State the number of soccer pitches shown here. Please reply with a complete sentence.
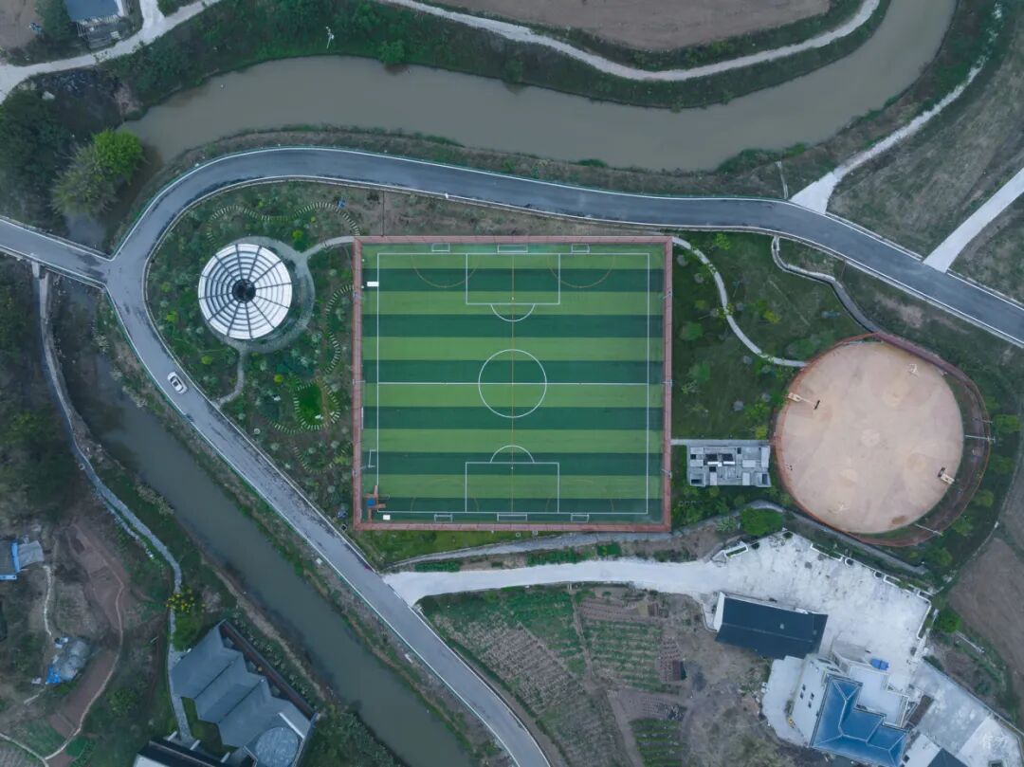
Only 1 soccer pitch is visible.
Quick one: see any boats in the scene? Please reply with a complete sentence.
No, the frame has no boat in it.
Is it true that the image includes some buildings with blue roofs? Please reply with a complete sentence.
Yes, the photo shows a building with a blue roof.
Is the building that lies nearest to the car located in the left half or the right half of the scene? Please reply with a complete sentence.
The building that lies nearest to the car sits on the left side.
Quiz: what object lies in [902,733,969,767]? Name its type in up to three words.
house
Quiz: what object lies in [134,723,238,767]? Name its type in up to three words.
building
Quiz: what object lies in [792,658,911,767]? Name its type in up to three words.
house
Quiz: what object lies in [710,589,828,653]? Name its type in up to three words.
barn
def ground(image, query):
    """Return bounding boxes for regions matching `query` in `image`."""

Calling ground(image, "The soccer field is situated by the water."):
[360,241,663,525]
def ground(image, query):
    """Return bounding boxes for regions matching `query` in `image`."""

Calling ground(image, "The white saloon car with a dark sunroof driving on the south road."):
[168,372,187,394]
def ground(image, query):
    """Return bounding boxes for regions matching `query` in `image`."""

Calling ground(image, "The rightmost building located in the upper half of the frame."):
[199,243,299,337]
